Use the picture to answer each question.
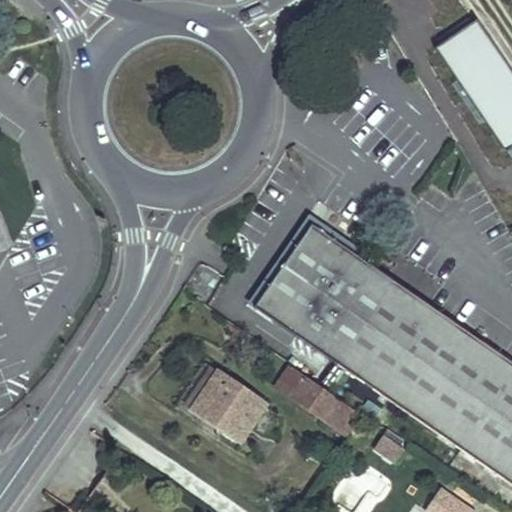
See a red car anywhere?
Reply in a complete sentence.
No, I can't see a single red car in this photo.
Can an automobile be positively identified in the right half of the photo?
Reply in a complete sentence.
Yes, an automobile can be seen in the right half of the photo.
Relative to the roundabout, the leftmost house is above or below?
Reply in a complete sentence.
In the image, the leftmost house sits below the roundabout.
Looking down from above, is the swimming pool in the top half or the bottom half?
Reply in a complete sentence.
The bottom half of the photo is where the swimming pool is.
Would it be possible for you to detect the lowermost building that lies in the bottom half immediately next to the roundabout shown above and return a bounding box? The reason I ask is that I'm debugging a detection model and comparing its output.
[250,215,512,485]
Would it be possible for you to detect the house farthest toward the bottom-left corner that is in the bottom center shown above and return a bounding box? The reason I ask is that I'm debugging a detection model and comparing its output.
[179,366,270,448]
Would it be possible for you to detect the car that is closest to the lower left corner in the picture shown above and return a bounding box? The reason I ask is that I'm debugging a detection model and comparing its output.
[23,284,45,299]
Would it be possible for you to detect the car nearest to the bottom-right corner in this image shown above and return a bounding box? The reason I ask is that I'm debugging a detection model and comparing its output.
[476,322,492,340]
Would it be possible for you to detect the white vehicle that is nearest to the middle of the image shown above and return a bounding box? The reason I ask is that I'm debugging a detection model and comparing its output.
[266,186,286,202]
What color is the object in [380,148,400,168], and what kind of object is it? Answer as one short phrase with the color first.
white car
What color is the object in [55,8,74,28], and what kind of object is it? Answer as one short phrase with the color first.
white car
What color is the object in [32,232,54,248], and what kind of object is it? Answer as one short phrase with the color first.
blue vehicle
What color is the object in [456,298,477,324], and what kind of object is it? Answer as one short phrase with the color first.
white vehicle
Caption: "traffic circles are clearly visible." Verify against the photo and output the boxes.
[70,2,276,208]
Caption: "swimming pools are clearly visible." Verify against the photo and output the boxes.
[332,466,391,512]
